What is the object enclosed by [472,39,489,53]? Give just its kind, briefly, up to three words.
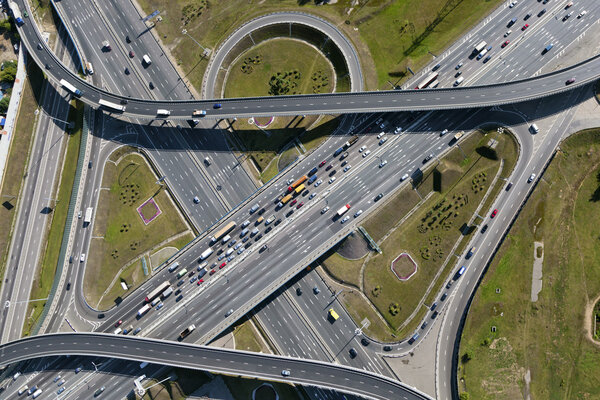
vehicle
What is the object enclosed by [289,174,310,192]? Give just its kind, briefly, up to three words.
vehicle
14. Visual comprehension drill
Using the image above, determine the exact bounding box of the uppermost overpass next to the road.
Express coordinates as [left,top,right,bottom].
[8,0,600,122]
